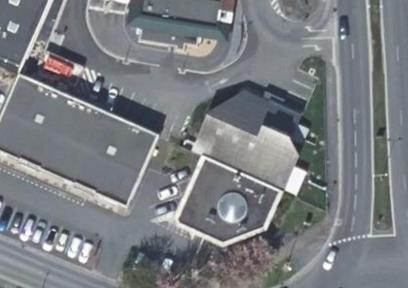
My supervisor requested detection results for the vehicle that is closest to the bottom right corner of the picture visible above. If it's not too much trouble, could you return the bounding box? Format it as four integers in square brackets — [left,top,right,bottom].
[322,246,338,270]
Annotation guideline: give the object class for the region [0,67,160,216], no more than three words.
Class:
building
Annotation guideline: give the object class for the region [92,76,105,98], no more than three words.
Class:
vehicle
